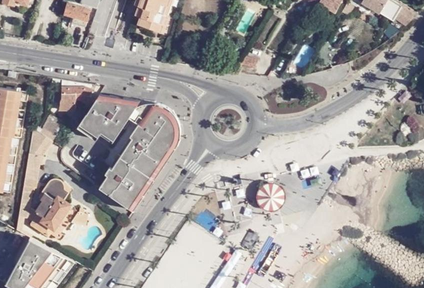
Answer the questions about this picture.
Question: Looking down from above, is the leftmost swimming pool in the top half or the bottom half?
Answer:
bottom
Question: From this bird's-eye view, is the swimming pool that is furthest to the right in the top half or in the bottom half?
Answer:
top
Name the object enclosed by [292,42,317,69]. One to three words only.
swimming pool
